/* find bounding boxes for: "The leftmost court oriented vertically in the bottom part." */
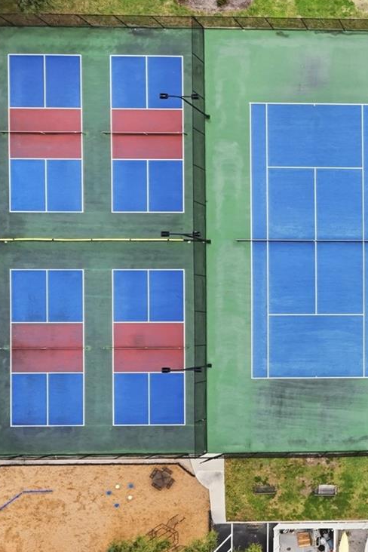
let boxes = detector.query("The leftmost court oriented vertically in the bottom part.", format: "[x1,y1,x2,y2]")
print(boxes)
[9,269,84,427]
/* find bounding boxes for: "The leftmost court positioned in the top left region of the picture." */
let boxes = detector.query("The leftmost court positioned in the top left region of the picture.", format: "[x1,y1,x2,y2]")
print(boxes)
[8,54,83,212]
